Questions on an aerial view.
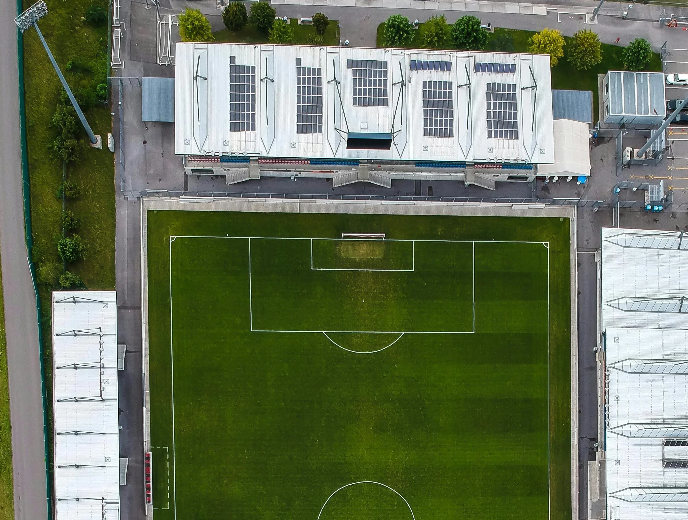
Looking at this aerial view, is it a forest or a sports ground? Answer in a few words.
sports ground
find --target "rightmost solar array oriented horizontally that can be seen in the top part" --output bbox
[475,59,517,74]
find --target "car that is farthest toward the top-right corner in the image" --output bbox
[667,71,688,85]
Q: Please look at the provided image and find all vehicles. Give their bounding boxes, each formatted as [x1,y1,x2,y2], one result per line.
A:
[669,97,688,111]
[669,113,688,126]
[667,71,688,85]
